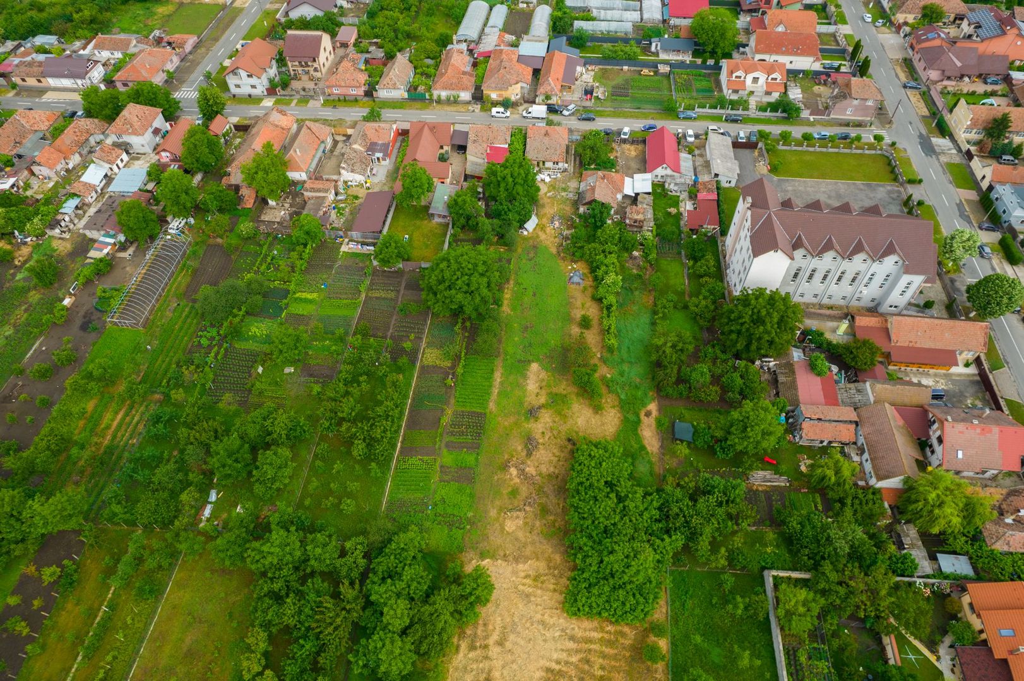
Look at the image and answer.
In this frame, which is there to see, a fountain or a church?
church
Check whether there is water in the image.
No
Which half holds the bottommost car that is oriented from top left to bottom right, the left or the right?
right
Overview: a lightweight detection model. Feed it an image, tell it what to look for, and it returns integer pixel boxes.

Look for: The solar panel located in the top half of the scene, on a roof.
[967,8,1007,39]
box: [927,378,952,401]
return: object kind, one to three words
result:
car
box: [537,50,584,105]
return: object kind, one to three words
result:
house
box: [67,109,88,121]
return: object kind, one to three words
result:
vehicle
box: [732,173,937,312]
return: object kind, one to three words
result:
church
